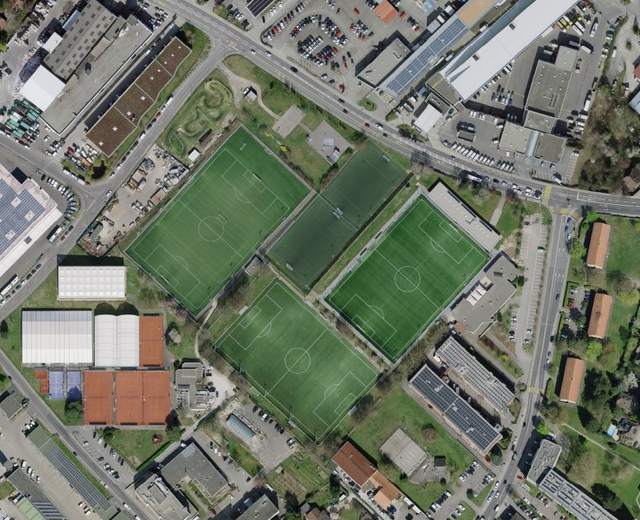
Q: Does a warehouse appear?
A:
Yes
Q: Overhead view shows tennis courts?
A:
Yes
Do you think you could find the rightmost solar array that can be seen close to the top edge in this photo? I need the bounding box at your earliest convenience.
[387,19,462,91]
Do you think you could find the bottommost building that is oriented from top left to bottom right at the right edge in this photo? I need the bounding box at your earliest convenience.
[539,470,618,520]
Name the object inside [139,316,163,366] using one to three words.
tennis court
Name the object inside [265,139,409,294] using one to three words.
sports field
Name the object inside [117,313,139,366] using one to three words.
building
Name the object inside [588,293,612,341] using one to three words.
house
